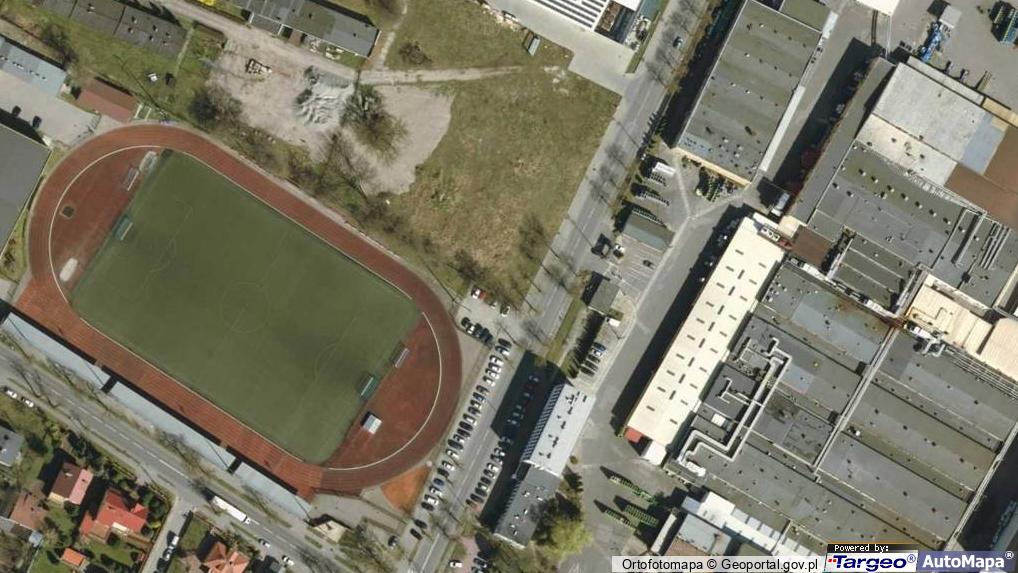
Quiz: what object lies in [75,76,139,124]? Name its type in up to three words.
building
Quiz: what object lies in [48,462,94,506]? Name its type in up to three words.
house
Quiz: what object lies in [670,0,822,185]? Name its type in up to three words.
warehouse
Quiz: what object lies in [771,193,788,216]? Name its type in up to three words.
vehicle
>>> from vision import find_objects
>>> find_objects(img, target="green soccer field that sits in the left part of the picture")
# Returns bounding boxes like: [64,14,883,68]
[72,148,420,465]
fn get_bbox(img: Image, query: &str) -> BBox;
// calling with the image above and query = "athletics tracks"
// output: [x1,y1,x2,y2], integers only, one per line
[7,120,466,506]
